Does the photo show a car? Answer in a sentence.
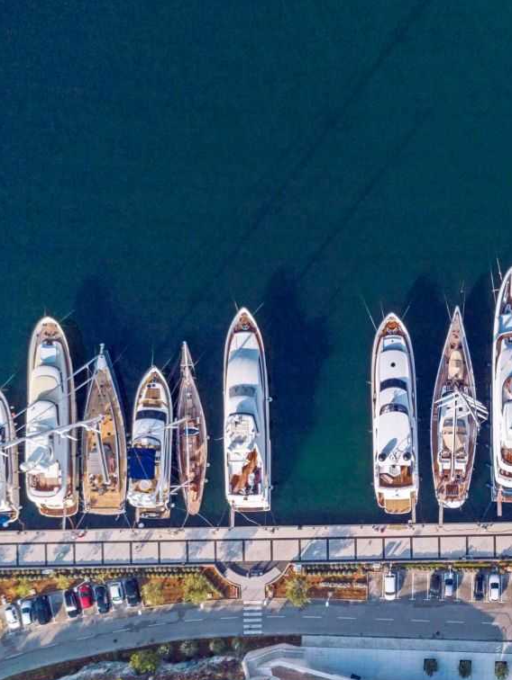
Yes, you can see a car in this photo.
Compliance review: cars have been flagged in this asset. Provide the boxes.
[442,571,455,596]
[430,575,441,600]
[96,586,111,612]
[488,573,500,600]
[21,599,36,625]
[35,593,54,624]
[80,584,95,609]
[65,589,82,617]
[472,573,485,600]
[127,578,141,605]
[111,581,126,604]
[5,602,22,626]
